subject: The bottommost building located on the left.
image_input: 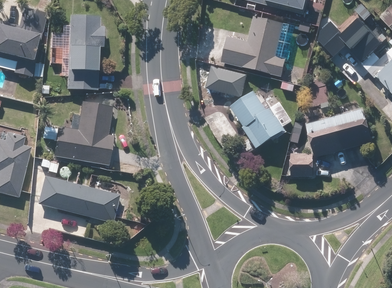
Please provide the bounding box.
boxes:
[39,176,120,221]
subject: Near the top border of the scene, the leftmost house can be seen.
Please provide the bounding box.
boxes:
[0,7,46,78]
